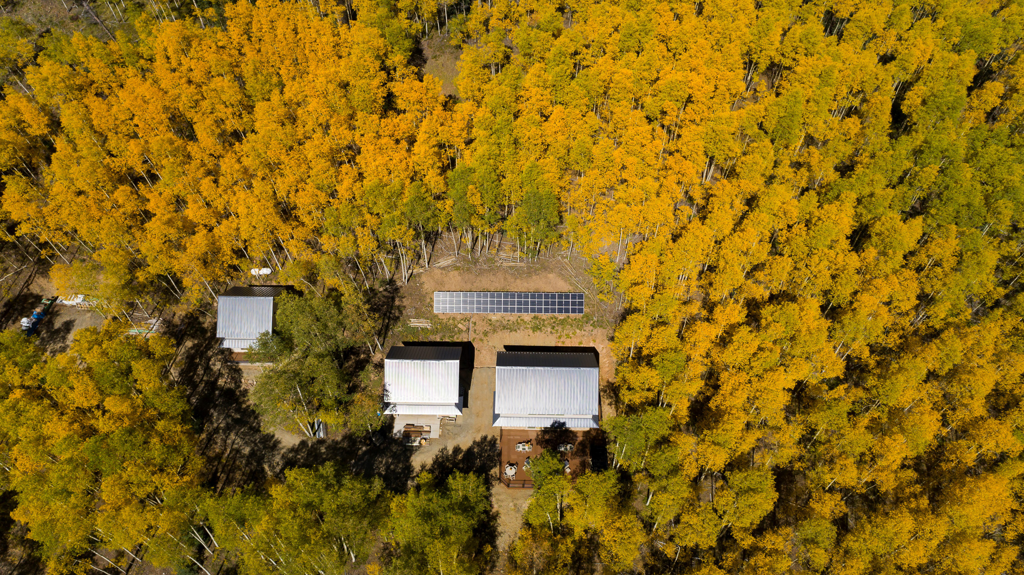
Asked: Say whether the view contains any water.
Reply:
No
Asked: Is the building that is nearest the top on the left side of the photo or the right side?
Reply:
left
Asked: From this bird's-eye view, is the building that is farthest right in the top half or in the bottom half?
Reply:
bottom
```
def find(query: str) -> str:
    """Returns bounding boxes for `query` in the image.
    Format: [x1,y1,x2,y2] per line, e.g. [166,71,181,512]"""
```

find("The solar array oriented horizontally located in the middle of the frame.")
[433,291,585,319]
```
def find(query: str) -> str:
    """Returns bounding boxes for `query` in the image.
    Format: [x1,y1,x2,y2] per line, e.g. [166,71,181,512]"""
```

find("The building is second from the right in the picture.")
[383,346,462,422]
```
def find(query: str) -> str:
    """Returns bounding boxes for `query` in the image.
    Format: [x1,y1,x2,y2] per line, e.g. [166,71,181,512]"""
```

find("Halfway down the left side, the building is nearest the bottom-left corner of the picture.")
[215,286,283,351]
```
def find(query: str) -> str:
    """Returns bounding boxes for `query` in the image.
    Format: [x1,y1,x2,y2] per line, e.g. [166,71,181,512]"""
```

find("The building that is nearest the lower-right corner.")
[494,351,599,430]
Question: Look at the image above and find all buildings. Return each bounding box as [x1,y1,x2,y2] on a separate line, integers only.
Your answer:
[215,286,283,351]
[383,346,462,422]
[494,351,599,430]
